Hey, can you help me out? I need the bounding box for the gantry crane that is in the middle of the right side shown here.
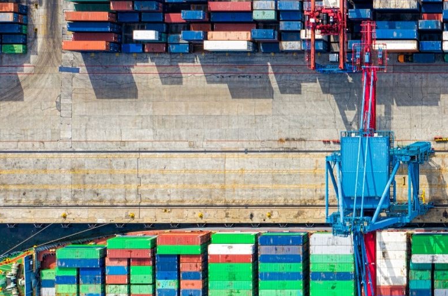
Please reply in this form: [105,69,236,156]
[324,20,436,296]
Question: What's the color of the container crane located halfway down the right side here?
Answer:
blue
